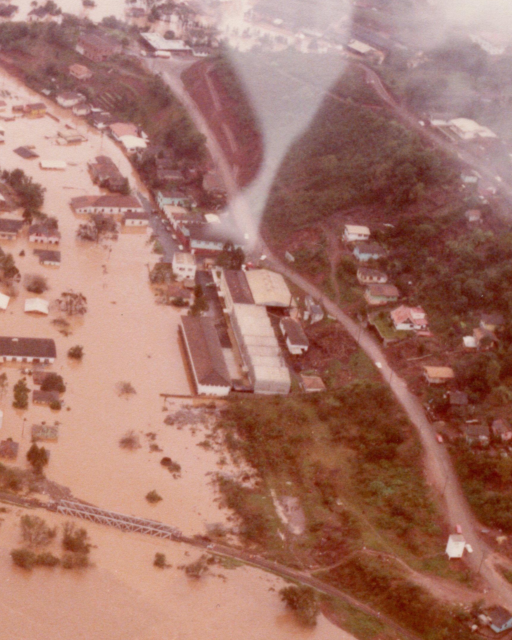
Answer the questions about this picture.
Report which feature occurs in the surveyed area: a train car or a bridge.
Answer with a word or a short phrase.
bridge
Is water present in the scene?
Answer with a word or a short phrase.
Yes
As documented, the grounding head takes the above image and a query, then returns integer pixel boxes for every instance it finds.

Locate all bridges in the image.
[52,501,179,543]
